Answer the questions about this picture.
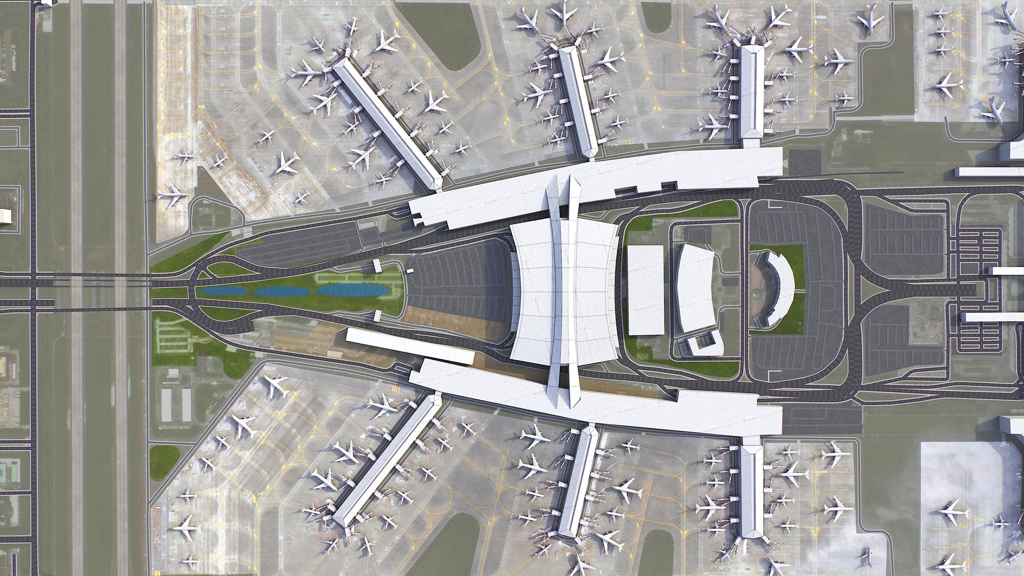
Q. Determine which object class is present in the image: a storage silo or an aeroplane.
aeroplane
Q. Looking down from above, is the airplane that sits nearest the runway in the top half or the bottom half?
top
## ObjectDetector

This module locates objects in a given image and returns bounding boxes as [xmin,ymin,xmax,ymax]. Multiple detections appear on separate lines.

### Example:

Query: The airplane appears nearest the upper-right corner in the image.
[996,0,1020,30]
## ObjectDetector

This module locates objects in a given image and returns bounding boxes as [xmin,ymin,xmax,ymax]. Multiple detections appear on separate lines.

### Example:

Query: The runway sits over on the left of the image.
[71,0,157,576]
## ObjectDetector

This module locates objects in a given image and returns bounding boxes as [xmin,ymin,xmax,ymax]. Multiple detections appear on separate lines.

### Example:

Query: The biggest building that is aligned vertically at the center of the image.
[510,175,619,409]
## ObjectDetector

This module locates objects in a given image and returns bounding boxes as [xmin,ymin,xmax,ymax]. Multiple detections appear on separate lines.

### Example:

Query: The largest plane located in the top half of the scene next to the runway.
[159,181,190,208]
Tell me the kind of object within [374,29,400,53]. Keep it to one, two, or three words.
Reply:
airplane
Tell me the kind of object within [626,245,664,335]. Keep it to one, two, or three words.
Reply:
building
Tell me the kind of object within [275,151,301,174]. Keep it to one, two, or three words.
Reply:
airplane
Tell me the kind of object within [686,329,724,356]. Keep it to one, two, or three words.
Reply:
building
